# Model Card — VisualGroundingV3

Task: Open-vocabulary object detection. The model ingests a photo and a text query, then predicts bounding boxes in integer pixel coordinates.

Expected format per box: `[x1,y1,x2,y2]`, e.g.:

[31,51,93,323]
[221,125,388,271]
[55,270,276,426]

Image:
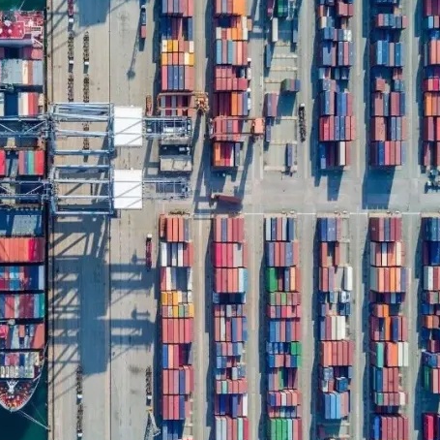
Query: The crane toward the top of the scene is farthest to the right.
[204,115,268,143]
